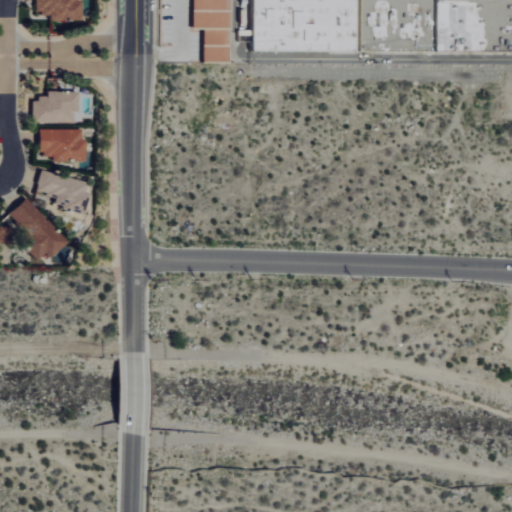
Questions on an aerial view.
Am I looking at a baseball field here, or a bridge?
bridge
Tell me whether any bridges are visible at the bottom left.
Yes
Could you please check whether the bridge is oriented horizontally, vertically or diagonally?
vertically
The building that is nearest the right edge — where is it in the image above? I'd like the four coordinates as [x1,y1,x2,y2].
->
[434,0,512,52]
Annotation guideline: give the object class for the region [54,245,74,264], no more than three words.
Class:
swimming pool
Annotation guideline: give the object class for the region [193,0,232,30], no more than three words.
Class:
building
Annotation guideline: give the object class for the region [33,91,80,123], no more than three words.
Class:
house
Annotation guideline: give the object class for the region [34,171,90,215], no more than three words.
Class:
house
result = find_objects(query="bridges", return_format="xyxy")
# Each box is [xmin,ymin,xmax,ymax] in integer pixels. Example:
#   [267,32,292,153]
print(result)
[120,352,151,434]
